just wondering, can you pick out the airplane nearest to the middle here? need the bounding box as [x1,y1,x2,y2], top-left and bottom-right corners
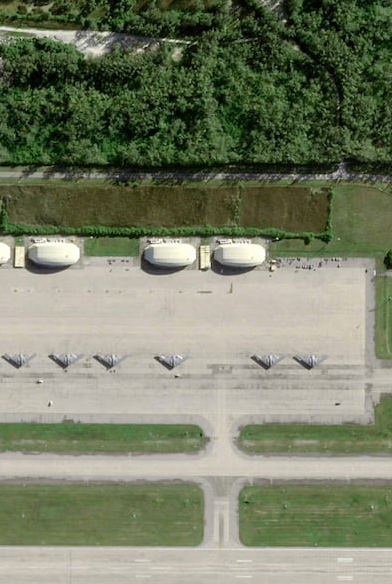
[160,354,187,367]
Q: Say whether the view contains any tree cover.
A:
Yes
